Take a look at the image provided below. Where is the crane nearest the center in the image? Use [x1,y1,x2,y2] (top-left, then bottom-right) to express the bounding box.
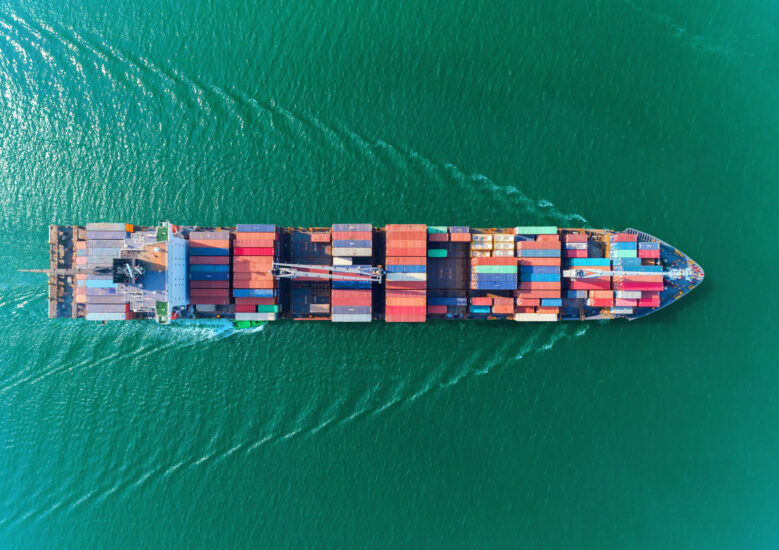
[272,262,386,283]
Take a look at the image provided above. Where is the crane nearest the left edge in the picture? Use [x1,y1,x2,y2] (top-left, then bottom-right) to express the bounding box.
[14,265,111,277]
